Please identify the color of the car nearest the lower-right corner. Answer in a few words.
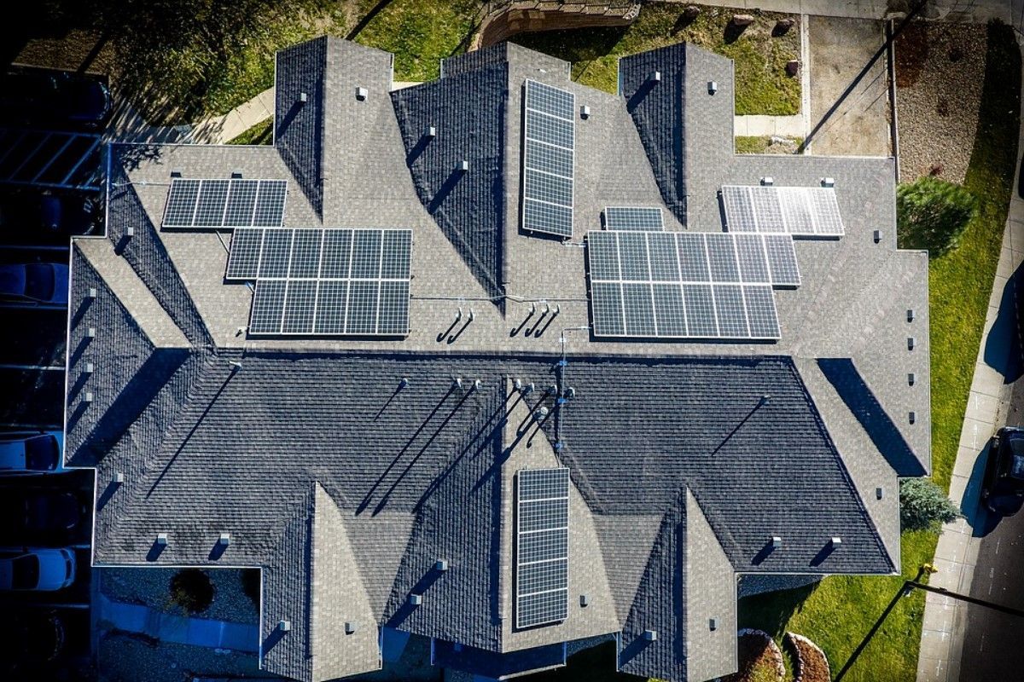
black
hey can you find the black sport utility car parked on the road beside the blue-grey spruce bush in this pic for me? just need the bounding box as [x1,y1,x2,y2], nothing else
[975,417,1024,517]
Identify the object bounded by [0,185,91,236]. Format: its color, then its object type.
black car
